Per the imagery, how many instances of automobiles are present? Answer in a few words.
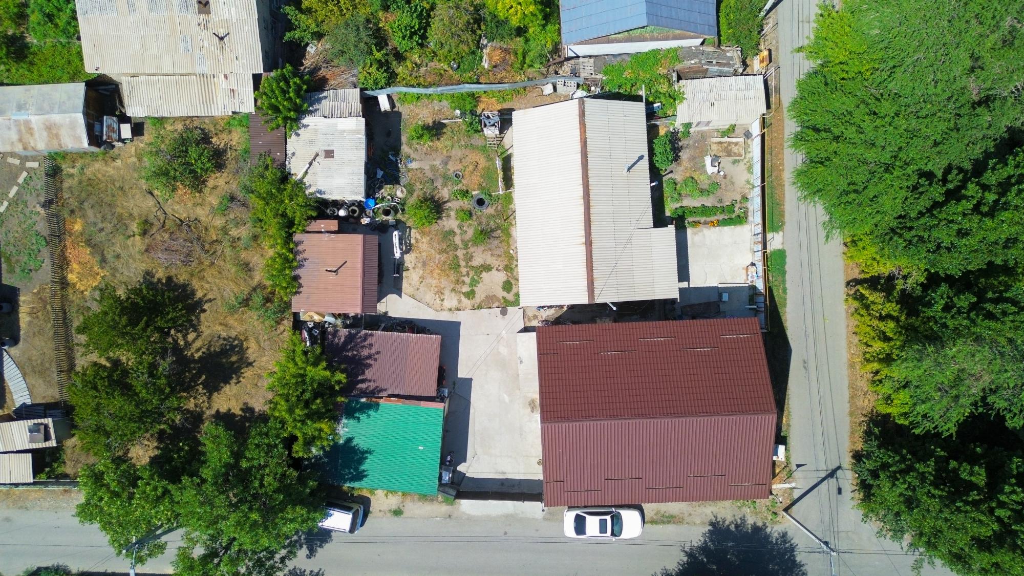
2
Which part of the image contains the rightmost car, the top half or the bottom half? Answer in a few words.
bottom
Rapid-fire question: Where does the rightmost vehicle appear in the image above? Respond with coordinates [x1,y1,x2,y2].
[564,505,644,543]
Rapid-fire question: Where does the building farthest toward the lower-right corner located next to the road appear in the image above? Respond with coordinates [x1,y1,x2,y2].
[535,317,780,507]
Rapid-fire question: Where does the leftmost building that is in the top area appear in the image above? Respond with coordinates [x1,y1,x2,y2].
[0,82,103,159]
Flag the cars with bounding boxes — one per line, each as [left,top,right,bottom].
[564,505,644,543]
[305,497,361,535]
